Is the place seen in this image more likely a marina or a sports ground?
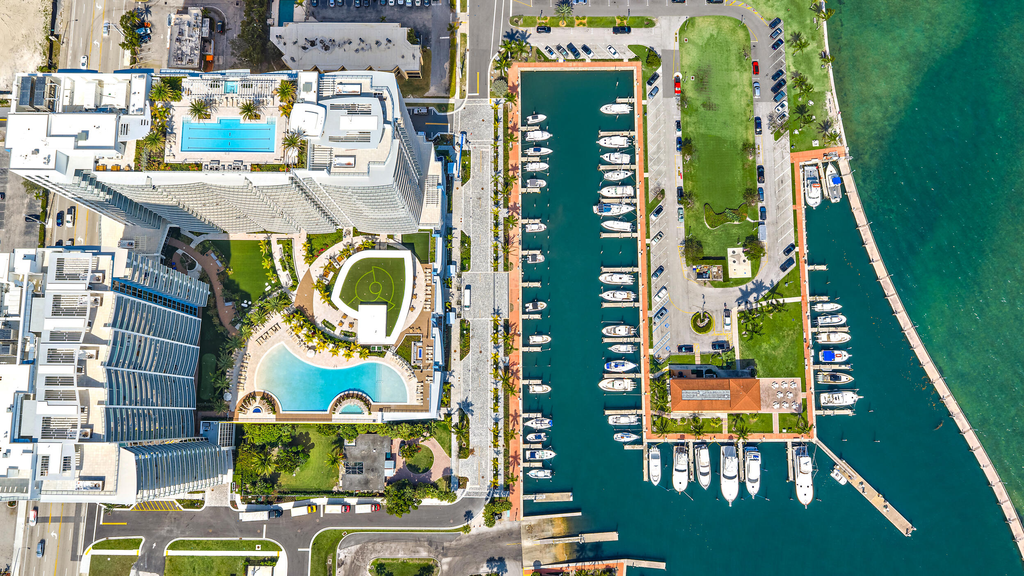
marina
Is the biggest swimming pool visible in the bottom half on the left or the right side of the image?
left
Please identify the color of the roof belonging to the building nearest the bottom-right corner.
orange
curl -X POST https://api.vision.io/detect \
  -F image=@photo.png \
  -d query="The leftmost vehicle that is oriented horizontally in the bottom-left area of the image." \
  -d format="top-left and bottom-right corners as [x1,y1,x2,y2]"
[236,509,282,521]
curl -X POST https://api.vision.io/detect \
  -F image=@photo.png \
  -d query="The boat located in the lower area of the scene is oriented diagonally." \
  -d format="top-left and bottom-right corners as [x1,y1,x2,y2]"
[830,469,847,485]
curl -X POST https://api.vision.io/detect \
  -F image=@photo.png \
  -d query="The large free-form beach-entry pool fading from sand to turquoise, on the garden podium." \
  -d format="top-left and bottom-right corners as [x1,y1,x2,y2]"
[254,342,409,412]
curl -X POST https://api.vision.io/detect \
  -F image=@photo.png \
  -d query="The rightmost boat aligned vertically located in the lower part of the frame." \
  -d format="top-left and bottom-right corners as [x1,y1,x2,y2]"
[793,446,817,510]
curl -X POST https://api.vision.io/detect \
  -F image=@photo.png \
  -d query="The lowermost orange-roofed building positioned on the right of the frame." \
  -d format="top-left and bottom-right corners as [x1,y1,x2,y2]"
[670,374,761,412]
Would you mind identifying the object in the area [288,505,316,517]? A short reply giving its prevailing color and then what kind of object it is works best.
white vehicle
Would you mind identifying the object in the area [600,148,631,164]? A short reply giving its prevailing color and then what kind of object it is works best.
white boat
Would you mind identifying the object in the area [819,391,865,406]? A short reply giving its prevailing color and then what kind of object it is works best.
white boat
